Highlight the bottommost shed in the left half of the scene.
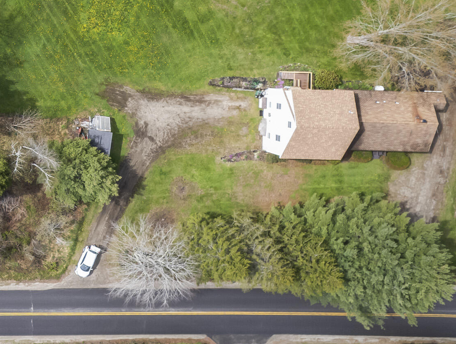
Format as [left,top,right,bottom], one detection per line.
[83,128,114,158]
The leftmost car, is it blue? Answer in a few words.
No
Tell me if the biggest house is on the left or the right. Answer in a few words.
right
